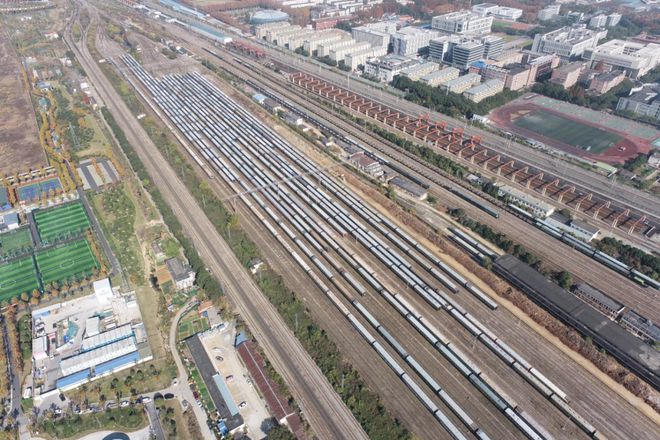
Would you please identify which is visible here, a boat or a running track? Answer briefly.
running track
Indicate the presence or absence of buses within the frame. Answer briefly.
Yes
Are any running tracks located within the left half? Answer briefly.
No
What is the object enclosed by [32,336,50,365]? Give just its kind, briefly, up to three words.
building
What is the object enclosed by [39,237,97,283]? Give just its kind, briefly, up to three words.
soccer field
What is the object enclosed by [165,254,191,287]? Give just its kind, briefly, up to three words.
house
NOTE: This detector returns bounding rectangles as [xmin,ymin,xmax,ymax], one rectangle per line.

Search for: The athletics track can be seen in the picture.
[500,106,650,160]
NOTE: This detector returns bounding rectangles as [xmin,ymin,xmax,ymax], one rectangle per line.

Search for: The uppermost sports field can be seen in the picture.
[516,111,631,151]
